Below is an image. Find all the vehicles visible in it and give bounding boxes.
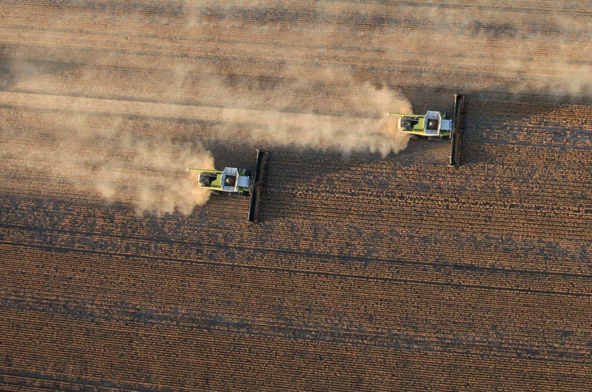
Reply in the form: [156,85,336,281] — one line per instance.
[184,149,272,224]
[386,93,469,166]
